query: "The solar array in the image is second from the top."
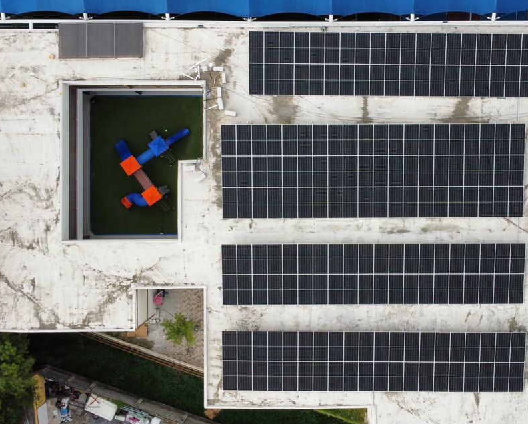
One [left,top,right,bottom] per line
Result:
[222,124,526,218]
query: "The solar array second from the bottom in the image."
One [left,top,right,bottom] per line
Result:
[222,244,526,304]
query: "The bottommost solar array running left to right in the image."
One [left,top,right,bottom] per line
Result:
[223,331,526,392]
